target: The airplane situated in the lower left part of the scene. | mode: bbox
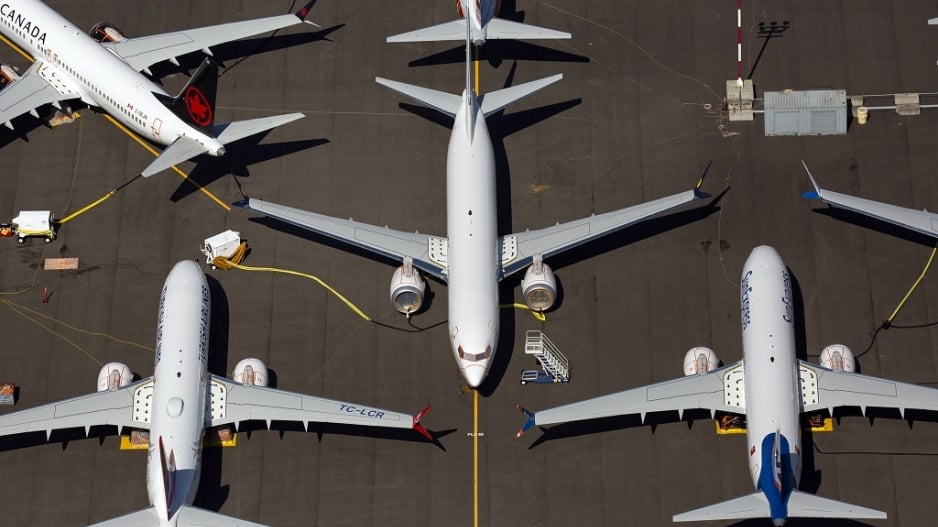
[0,259,431,527]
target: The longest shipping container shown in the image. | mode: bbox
[764,90,845,134]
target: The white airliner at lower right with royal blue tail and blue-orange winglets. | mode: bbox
[518,246,938,527]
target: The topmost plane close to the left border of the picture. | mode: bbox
[0,0,321,177]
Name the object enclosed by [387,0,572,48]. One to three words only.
airplane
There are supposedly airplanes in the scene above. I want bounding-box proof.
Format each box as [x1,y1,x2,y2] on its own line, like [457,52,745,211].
[0,0,321,177]
[233,3,711,390]
[803,162,938,237]
[518,246,938,527]
[928,16,938,22]
[0,259,431,527]
[387,0,572,48]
